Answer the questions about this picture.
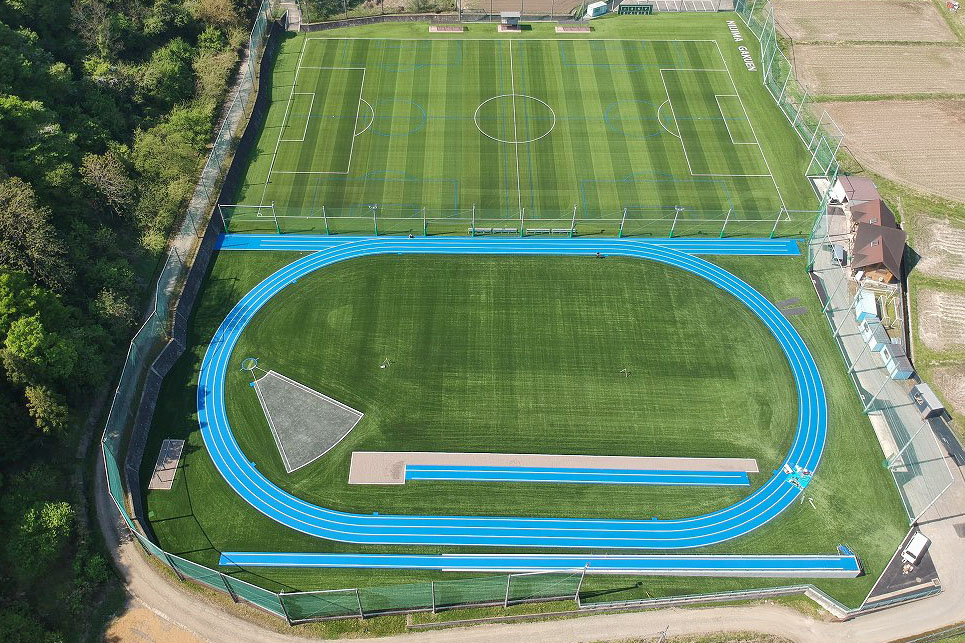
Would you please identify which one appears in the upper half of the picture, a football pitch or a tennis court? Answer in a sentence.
What appears in the upper half of the picture is a football pitch.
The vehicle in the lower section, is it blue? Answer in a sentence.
No, the vehicle in the lower section is white.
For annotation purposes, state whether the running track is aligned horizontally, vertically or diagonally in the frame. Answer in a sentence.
What the image shows is the running track lying horizontally.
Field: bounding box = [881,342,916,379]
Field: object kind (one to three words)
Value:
shed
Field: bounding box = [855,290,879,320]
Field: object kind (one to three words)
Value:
shed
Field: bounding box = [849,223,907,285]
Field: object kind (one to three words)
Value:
house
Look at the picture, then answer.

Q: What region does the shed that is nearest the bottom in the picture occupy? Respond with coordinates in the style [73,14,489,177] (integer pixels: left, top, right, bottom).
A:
[909,381,948,419]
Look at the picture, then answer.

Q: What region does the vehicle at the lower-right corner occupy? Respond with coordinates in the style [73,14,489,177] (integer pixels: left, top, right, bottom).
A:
[907,535,928,569]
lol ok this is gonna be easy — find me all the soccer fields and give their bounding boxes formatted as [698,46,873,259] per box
[258,39,791,221]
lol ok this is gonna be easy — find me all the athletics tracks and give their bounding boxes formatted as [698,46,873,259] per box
[195,234,828,548]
